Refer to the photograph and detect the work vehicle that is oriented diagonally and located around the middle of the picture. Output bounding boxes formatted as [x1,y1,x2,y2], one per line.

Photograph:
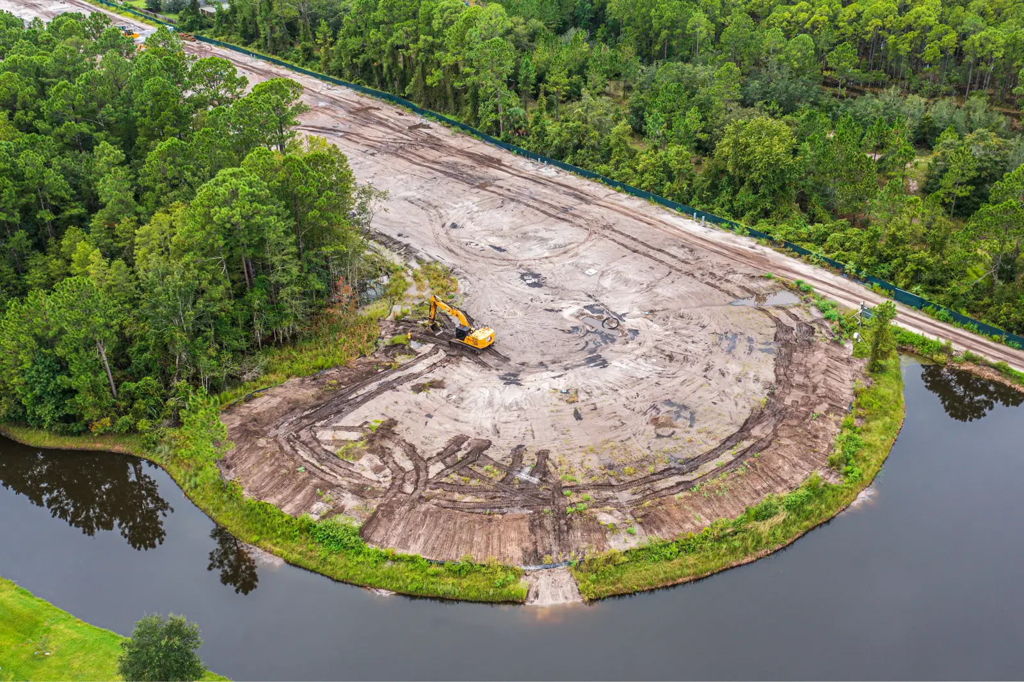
[430,302,496,361]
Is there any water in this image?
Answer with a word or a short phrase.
Yes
